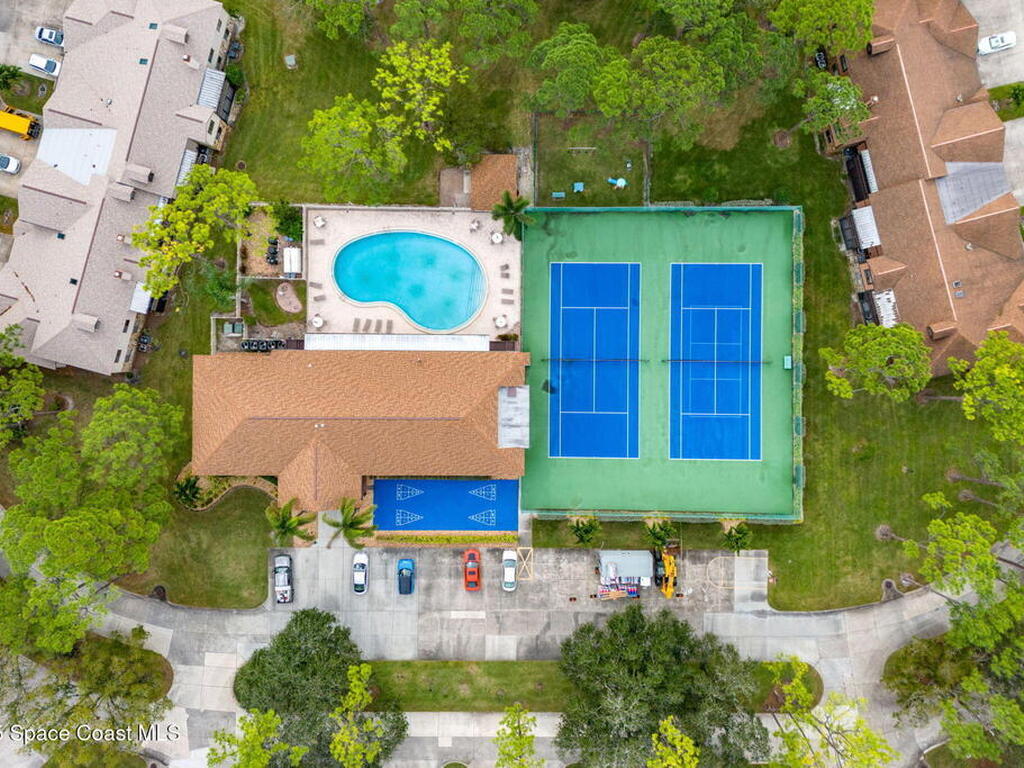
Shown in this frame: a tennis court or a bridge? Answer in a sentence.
I can see a tennis court in this picture.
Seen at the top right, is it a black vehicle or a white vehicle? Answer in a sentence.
What appears at the top right is a white vehicle.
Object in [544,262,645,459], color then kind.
blue tennis court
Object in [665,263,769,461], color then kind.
blue tennis court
